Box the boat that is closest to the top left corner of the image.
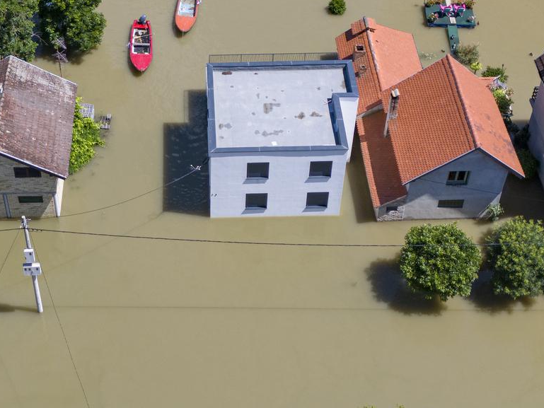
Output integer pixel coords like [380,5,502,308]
[128,7,154,69]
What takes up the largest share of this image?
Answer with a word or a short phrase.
water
